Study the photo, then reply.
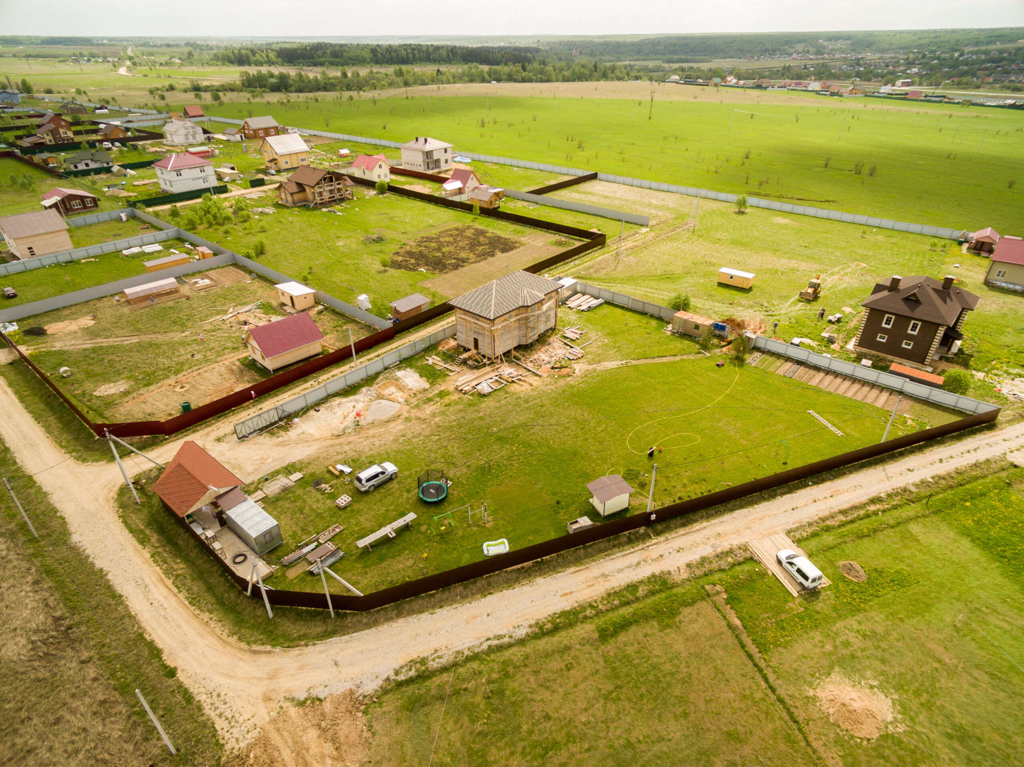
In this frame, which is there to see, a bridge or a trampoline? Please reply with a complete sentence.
It is a trampoline that can be seen here.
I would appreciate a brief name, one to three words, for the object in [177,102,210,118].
barn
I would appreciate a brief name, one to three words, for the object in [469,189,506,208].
building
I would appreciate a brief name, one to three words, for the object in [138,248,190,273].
shed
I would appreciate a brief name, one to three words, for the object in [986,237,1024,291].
house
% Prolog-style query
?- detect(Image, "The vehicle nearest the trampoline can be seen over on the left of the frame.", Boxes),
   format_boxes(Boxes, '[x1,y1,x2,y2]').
[353,461,400,493]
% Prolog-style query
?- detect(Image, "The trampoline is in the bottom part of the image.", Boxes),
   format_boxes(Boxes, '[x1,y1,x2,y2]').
[418,470,448,507]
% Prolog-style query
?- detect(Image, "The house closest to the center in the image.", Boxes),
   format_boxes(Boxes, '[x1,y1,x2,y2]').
[450,269,575,366]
